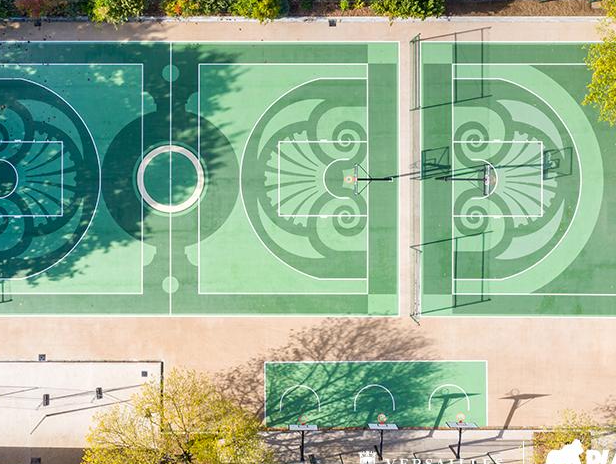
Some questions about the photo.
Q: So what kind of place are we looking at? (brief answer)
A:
sports ground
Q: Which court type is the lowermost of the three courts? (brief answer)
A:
basketball court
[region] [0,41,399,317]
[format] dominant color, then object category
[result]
green basketball court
